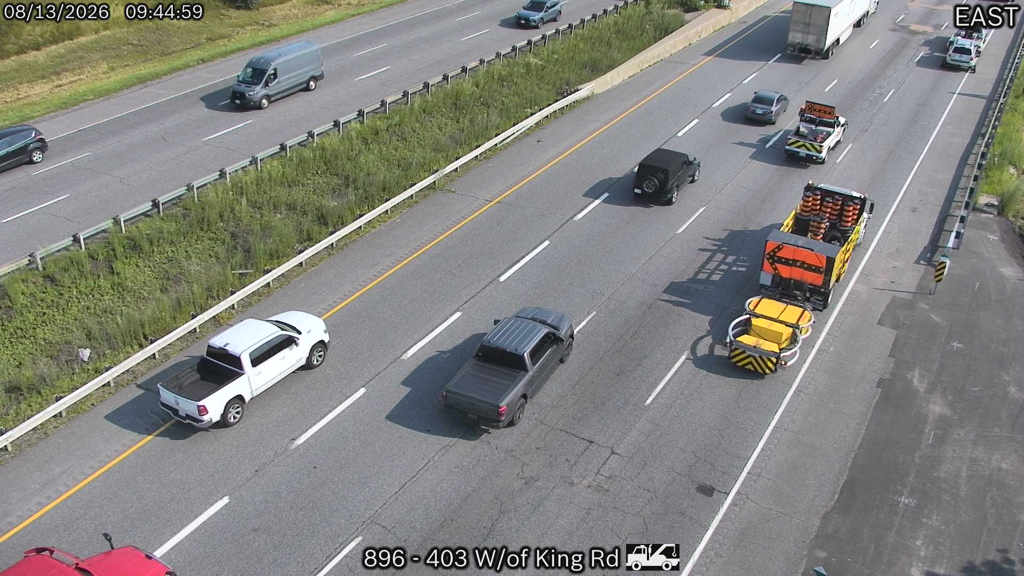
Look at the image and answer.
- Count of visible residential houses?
zero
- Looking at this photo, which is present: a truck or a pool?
truck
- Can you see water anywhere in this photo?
No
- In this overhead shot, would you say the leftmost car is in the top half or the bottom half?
top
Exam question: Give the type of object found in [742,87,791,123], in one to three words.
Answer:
car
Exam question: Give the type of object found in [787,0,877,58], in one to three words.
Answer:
trailer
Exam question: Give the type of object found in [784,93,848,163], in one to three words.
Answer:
truck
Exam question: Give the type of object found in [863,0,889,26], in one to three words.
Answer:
truck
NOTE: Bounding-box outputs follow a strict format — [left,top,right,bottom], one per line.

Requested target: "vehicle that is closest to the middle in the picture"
[446,308,577,431]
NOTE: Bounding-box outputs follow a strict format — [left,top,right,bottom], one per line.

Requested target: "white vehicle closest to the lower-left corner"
[159,311,332,431]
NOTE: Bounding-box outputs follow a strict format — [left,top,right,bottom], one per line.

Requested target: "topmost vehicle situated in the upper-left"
[226,39,325,109]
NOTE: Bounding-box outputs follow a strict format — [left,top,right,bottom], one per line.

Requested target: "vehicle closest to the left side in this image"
[0,123,47,171]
